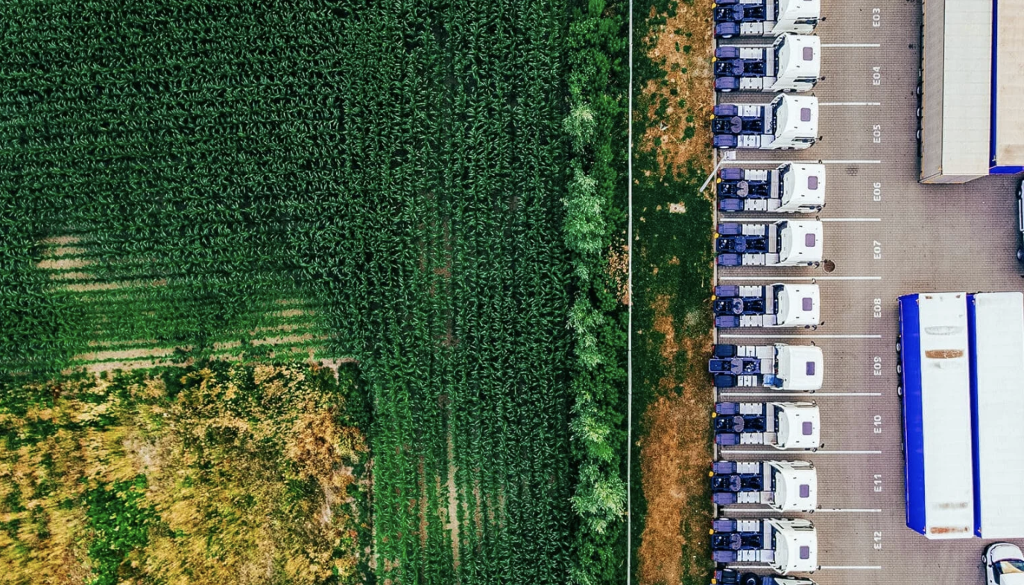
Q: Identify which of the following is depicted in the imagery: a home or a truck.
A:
truck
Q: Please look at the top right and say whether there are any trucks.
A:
Yes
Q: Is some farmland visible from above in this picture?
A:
Yes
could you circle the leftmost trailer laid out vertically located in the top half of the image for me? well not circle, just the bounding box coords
[915,0,993,184]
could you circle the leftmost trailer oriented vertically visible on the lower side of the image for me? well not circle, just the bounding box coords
[894,291,974,542]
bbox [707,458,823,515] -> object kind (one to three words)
truck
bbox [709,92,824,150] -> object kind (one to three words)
truck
